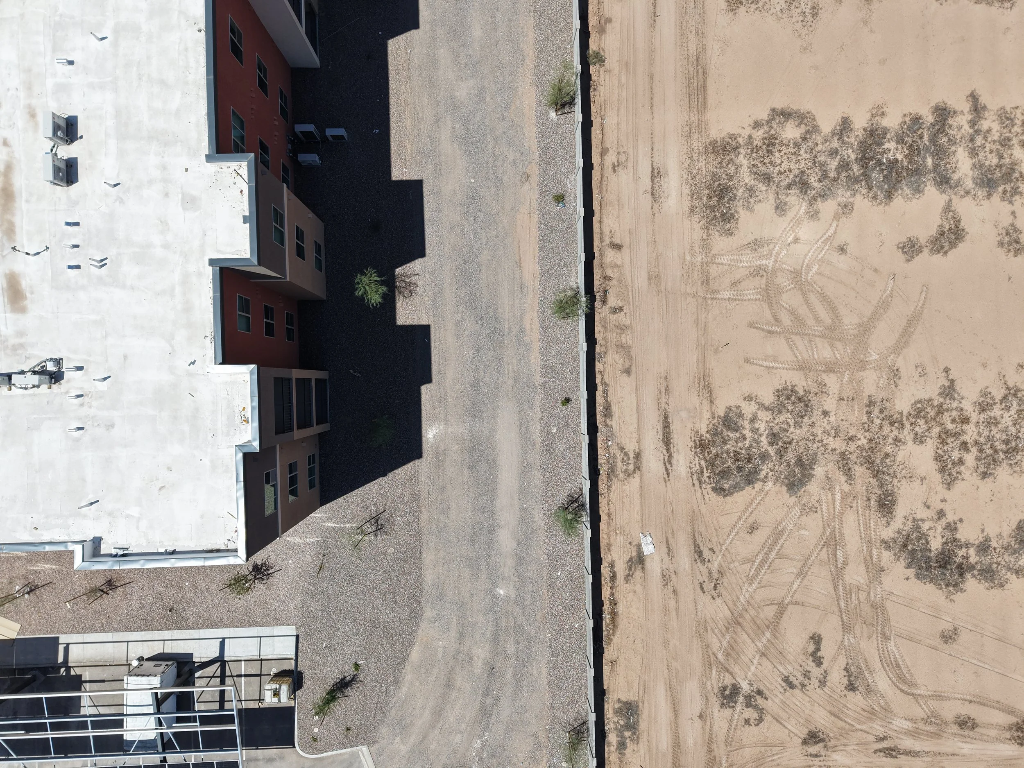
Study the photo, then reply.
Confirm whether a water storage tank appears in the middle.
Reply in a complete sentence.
No, in the middle there is no water storage tank.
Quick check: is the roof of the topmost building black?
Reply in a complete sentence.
No, the roof of the topmost building is white.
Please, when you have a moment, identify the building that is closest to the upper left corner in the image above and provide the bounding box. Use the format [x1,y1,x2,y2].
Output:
[0,0,330,571]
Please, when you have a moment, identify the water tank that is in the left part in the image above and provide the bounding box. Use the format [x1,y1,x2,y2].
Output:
[264,676,295,704]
